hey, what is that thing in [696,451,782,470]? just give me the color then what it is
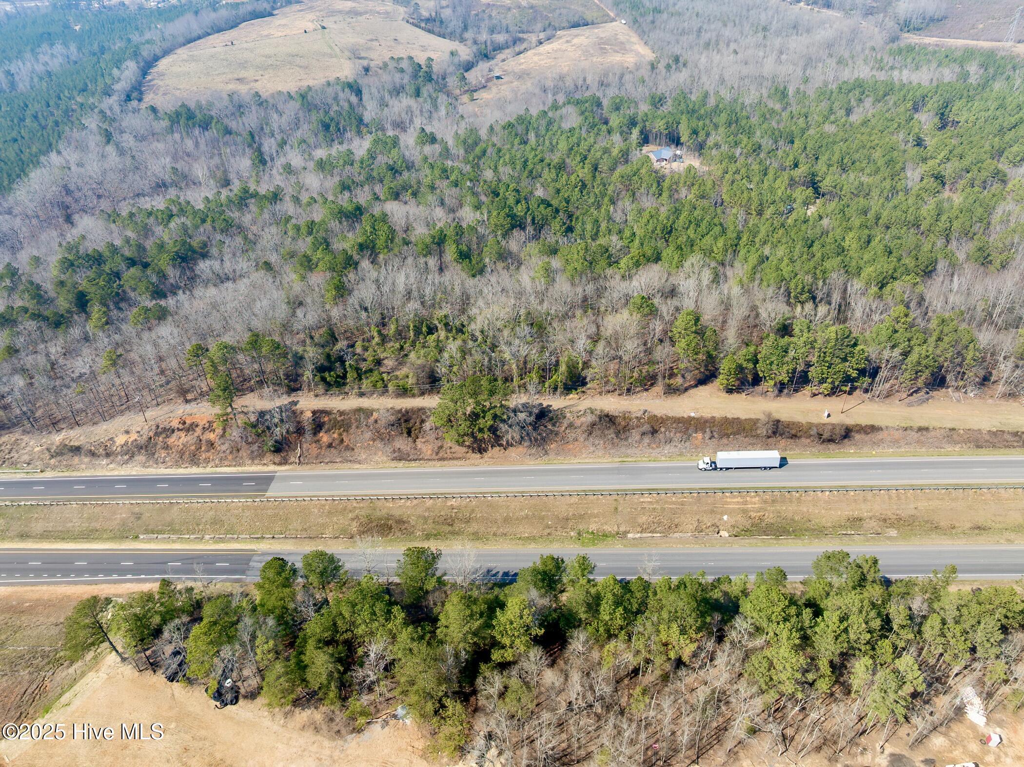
white vehicle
